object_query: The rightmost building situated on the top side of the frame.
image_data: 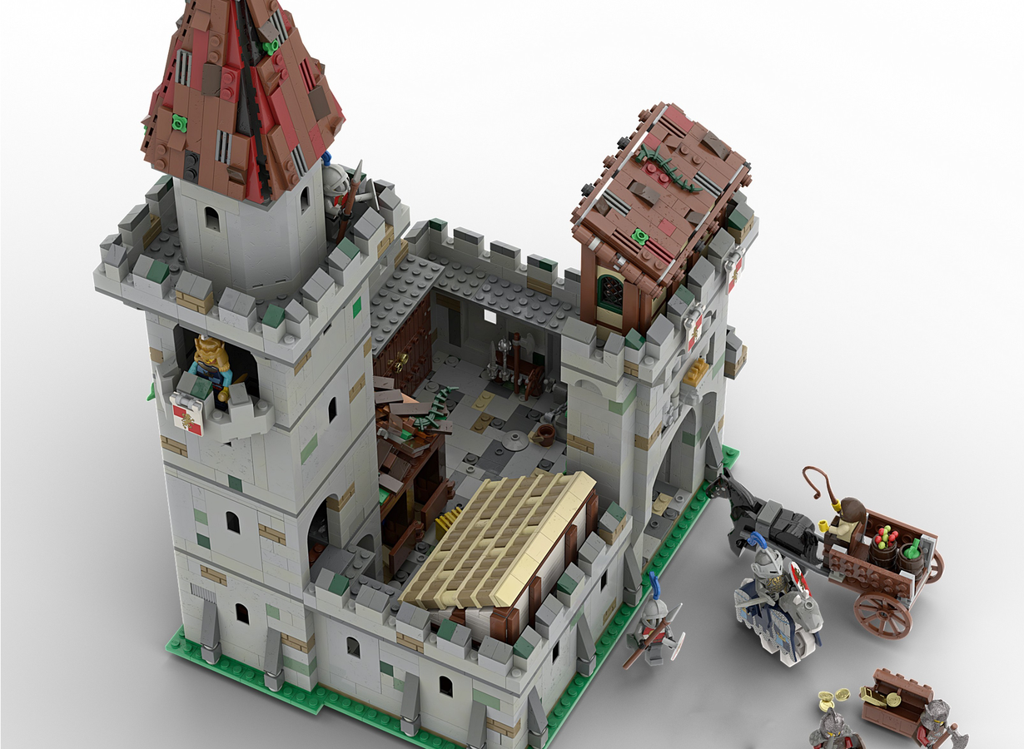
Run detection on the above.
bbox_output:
[566,98,753,352]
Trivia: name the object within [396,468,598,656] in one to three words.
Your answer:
shed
